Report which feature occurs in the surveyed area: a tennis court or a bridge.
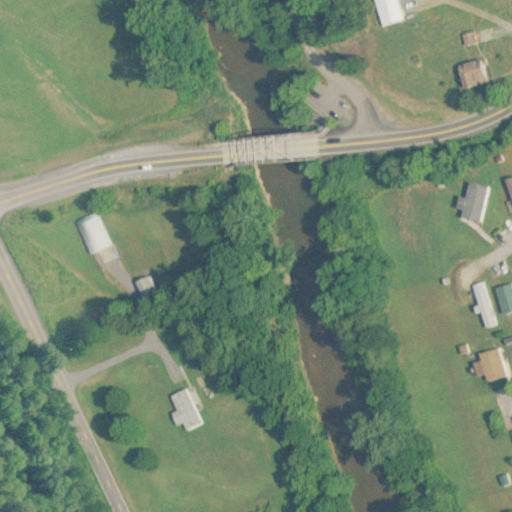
bridge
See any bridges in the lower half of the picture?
No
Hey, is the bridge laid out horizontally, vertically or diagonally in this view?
horizontally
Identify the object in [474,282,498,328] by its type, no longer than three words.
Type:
house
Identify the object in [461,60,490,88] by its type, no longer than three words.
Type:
house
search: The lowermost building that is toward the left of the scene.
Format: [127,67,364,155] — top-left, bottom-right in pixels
[172,388,204,432]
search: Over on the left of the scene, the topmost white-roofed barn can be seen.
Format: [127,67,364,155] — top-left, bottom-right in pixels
[78,213,112,256]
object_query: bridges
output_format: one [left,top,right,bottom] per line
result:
[216,132,326,172]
